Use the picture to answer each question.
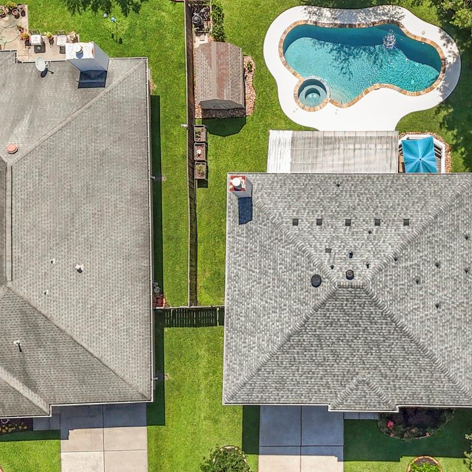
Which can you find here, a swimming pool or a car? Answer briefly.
swimming pool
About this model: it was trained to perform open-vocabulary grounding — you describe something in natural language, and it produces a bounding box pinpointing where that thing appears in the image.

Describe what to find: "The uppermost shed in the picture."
[196,40,247,109]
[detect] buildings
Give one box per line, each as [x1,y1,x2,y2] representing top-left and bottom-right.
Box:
[196,40,247,109]
[222,172,472,412]
[0,42,157,418]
